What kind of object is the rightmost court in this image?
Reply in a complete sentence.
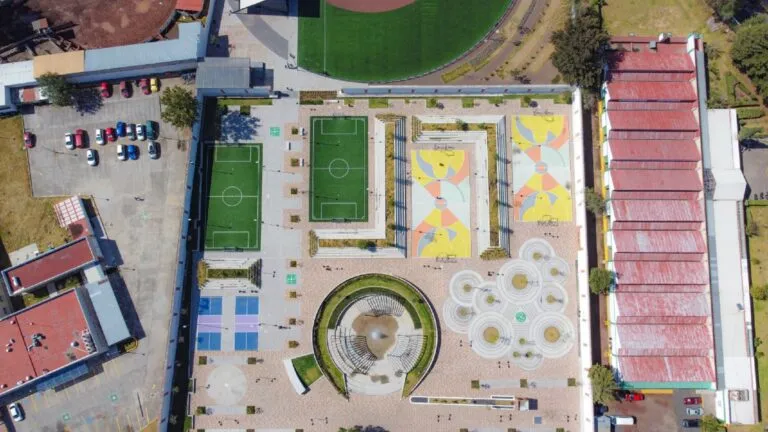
It looks like the rightmost court is a basketball court.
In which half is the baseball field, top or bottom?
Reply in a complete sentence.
Seen from above, the baseball field lies in the top half of the view.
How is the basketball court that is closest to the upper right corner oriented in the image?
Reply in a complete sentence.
The basketball court that is closest to the upper right corner is laid out up and down.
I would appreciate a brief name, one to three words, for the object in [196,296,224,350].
sports court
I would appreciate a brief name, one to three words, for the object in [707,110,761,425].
building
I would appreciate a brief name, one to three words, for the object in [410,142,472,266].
basketball court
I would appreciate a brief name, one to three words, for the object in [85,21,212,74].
shed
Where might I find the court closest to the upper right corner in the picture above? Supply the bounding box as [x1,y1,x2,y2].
[512,107,573,230]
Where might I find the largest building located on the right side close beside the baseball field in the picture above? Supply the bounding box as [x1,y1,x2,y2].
[598,38,718,392]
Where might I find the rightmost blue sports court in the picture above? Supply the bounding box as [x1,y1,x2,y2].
[232,296,259,350]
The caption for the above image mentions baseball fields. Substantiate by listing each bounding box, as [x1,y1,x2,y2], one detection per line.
[298,0,514,86]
